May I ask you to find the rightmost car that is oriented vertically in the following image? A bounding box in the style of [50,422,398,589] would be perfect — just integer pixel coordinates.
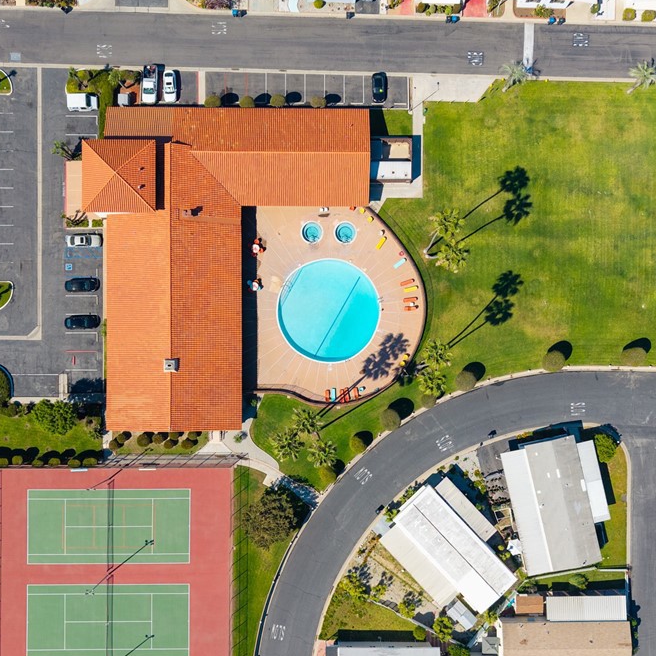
[373,70,388,103]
